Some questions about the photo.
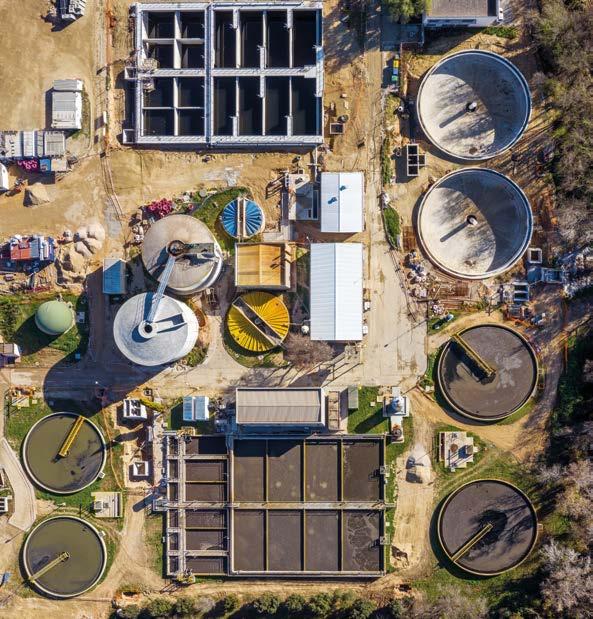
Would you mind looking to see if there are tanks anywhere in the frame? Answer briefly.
Yes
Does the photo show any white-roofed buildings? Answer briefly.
Yes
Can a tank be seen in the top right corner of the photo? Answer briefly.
Yes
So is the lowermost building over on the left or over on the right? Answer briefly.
left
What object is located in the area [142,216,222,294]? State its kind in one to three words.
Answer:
storage tank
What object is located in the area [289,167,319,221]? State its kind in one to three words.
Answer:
building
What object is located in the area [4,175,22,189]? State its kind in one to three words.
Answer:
vehicle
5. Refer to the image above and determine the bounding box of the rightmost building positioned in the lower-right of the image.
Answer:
[438,431,478,472]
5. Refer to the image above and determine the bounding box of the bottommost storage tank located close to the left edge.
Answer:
[22,514,108,599]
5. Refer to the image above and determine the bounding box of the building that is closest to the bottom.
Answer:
[91,491,123,517]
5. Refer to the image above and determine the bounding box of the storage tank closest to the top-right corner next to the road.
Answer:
[417,48,531,163]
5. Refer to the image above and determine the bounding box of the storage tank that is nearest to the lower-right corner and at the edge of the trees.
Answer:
[436,476,543,578]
